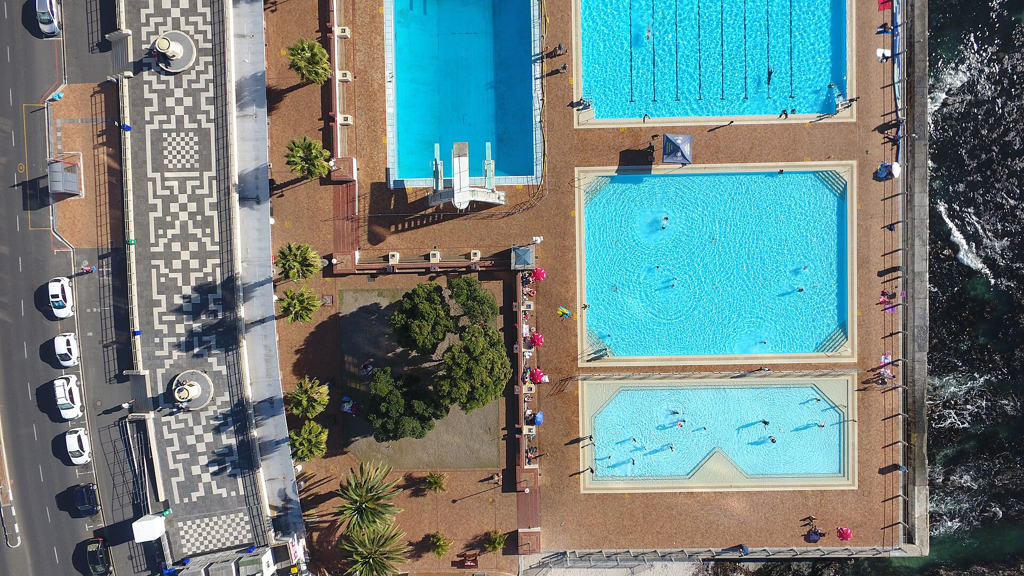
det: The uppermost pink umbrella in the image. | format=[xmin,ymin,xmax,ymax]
[532,267,546,282]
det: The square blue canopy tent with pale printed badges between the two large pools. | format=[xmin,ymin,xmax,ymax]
[658,132,694,171]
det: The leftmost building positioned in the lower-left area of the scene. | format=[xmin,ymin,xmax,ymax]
[132,507,172,542]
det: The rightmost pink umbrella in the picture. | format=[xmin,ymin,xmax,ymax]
[836,526,852,541]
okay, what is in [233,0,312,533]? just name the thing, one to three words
building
